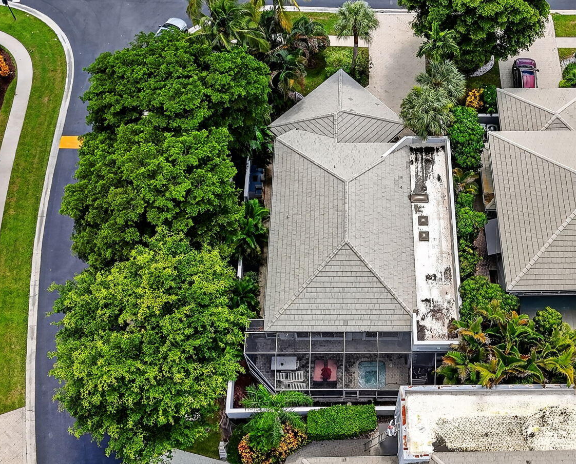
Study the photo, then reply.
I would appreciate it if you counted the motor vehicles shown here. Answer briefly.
2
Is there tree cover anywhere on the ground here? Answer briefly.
Yes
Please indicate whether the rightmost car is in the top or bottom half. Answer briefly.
top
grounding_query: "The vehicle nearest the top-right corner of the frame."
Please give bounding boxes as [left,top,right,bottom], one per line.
[510,59,539,87]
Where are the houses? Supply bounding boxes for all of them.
[260,68,460,363]
[478,86,576,310]
[299,385,576,464]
